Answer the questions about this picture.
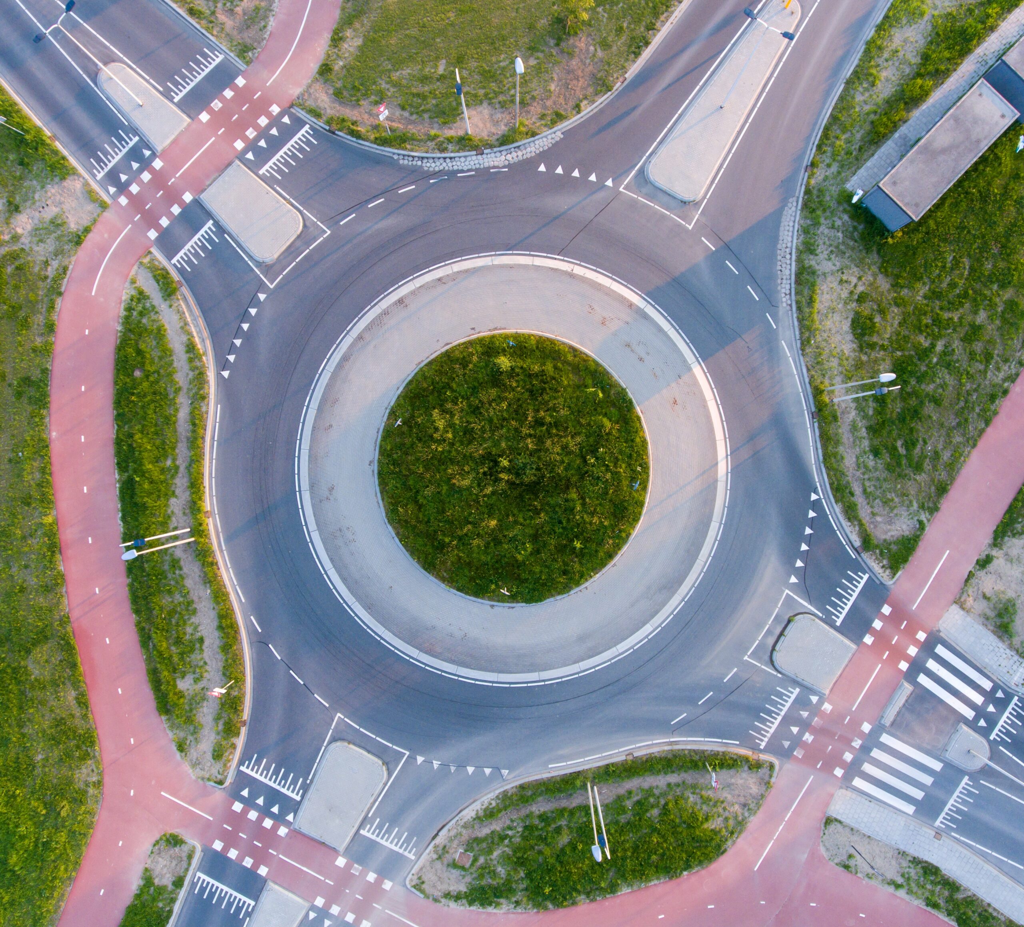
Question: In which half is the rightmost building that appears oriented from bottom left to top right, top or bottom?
top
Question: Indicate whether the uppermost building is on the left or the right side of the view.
right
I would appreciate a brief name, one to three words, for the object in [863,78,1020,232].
building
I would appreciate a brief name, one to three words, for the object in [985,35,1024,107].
building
